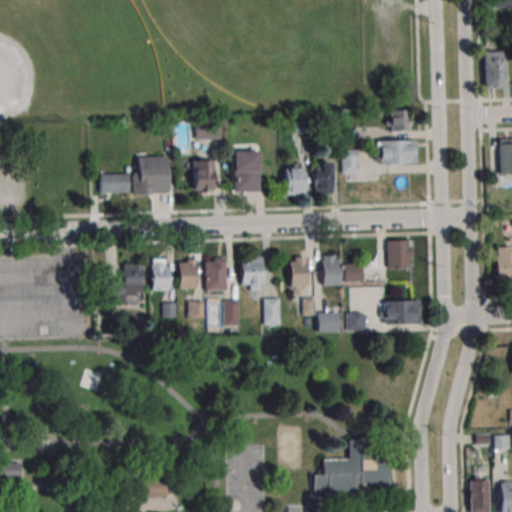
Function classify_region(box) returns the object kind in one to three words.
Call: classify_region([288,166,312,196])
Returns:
house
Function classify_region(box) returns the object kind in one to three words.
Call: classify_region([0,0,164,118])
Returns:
baseball field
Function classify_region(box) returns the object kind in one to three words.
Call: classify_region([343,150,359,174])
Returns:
building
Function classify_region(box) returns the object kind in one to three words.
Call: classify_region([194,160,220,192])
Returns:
house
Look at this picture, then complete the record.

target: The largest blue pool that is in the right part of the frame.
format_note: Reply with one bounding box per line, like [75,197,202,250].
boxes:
[394,176,408,190]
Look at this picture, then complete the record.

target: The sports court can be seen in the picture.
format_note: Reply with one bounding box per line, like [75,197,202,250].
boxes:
[277,424,302,470]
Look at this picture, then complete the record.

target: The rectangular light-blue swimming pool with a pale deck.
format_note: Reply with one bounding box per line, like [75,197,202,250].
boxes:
[176,120,192,156]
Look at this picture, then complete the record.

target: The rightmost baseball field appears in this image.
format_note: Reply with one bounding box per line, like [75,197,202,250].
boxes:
[140,0,360,108]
